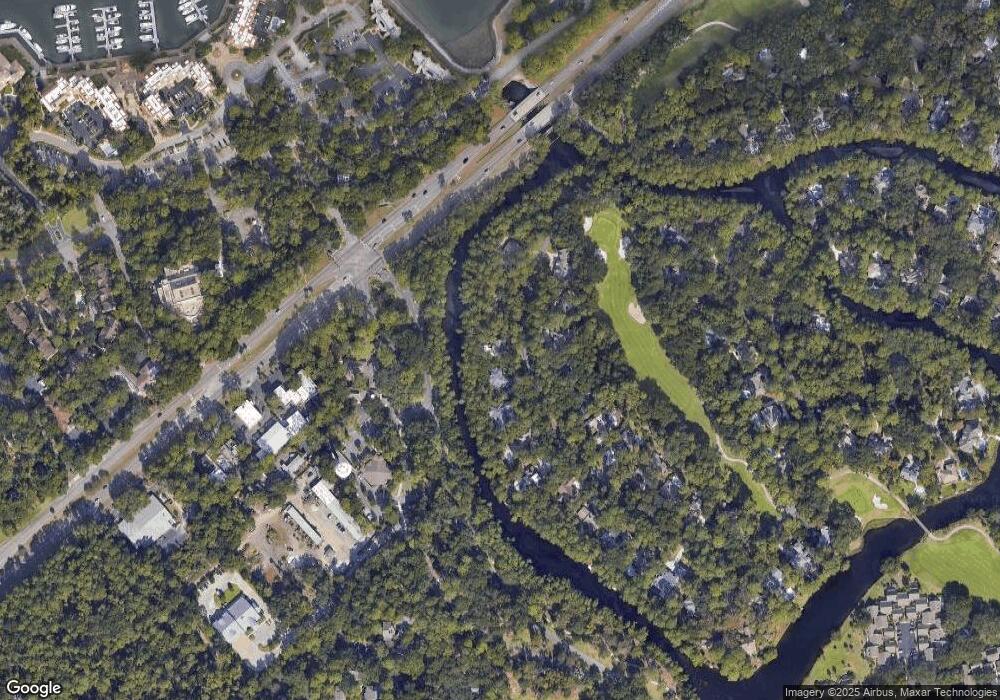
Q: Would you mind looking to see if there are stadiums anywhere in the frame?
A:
No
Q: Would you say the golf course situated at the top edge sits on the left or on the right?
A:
right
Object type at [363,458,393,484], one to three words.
building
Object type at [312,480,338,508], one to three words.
shed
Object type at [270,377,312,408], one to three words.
building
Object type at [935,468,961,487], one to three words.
house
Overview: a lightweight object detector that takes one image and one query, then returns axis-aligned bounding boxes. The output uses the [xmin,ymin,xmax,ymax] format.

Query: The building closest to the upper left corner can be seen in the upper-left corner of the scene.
[0,51,28,85]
